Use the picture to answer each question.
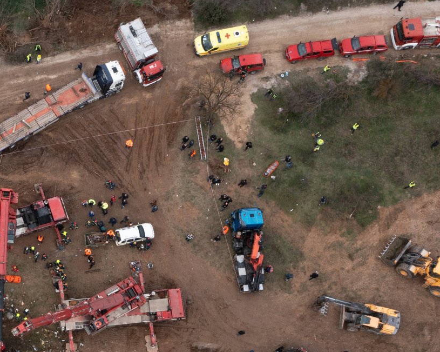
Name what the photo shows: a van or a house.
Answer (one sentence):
It is a van that can be seen here.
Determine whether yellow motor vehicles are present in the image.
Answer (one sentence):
Yes, this view includes a yellow motor vehicle.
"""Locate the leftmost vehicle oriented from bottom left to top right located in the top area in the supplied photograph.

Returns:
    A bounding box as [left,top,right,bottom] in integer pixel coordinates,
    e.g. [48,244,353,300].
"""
[0,57,128,156]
